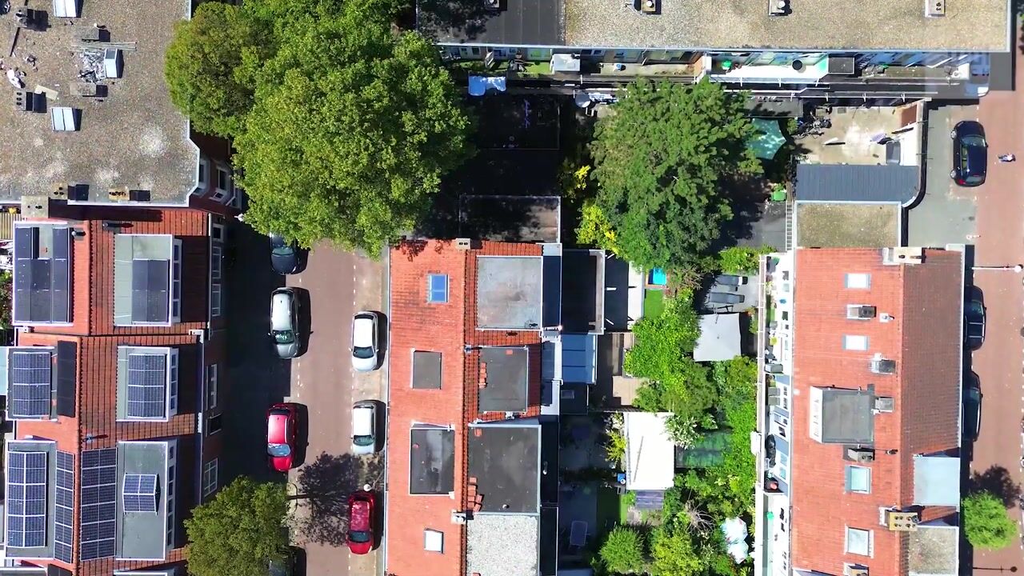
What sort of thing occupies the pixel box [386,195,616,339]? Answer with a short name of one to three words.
house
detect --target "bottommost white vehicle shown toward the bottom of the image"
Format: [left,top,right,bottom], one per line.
[348,402,378,453]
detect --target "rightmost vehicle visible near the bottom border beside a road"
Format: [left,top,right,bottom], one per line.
[344,492,375,552]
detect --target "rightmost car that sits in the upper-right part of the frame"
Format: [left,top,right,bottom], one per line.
[947,122,986,186]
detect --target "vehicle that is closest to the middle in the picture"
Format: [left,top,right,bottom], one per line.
[348,313,379,370]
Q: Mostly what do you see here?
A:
buildings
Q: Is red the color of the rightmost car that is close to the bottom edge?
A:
Yes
